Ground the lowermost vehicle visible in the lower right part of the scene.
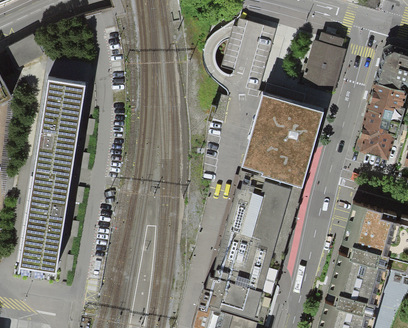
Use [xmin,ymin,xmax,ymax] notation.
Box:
[294,264,306,293]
